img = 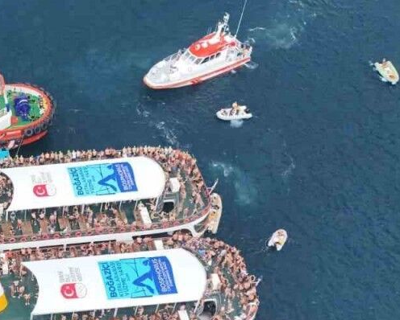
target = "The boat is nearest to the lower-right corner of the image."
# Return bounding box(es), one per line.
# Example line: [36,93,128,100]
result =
[268,228,287,252]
